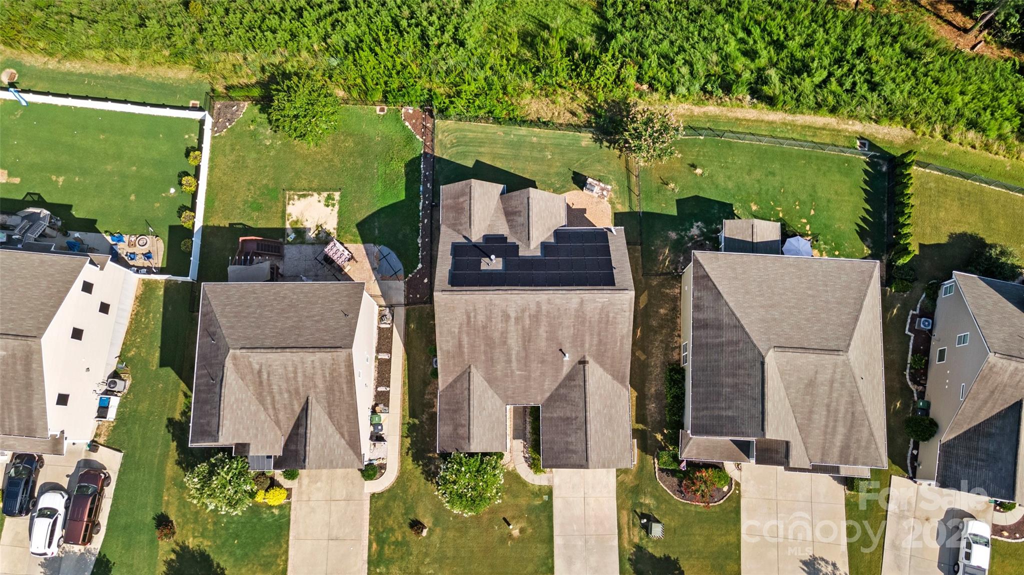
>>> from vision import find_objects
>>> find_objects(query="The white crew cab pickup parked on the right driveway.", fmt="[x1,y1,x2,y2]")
[951,513,1000,575]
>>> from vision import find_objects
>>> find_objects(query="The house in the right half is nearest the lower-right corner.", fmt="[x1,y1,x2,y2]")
[914,272,1024,505]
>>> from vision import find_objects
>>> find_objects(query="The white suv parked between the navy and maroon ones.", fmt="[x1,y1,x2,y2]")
[26,487,69,560]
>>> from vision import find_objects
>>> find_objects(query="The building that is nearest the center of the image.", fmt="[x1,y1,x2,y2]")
[434,180,634,470]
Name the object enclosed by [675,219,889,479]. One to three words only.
house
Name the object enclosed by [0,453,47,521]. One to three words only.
car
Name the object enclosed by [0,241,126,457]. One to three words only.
house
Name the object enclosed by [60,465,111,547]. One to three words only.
car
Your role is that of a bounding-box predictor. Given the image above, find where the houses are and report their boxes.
[675,219,889,479]
[188,282,380,472]
[434,180,634,470]
[0,241,126,457]
[914,272,1024,505]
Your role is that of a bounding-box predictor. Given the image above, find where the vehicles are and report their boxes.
[0,453,47,521]
[951,513,1000,575]
[60,465,111,547]
[26,487,69,560]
